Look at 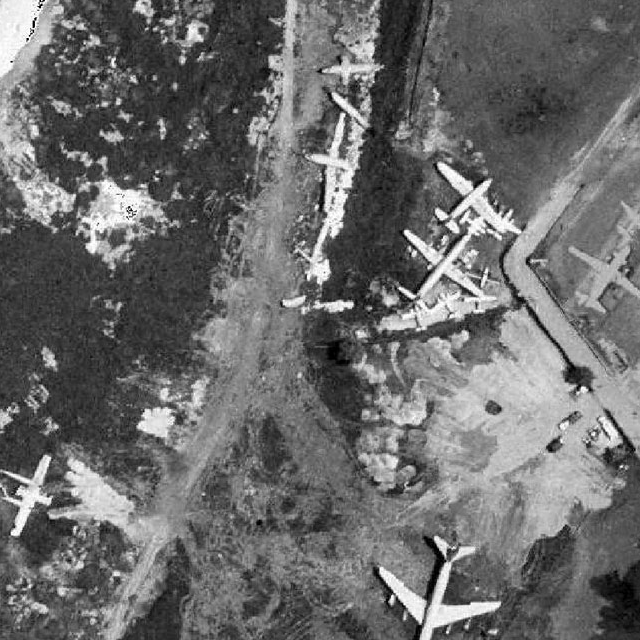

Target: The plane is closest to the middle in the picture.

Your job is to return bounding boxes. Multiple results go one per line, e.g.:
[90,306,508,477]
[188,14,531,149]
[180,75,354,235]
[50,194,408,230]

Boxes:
[397,229,485,300]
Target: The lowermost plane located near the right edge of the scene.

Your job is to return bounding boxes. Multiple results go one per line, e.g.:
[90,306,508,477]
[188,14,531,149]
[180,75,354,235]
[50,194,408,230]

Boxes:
[569,244,640,314]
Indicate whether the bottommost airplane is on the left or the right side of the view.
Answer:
right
